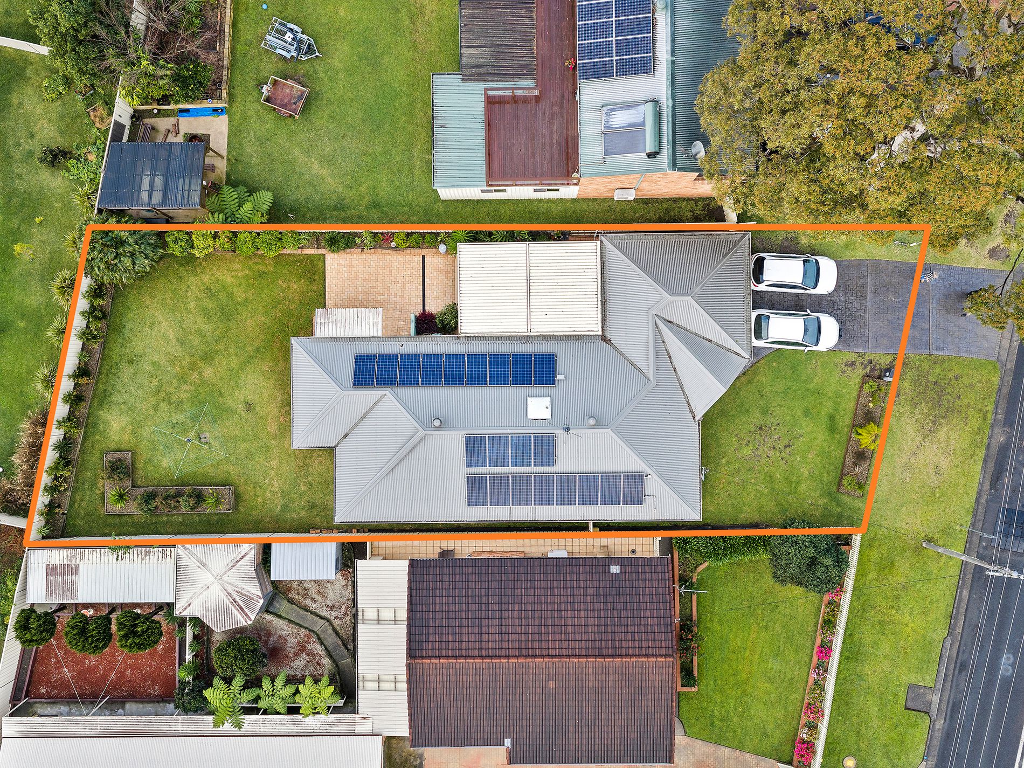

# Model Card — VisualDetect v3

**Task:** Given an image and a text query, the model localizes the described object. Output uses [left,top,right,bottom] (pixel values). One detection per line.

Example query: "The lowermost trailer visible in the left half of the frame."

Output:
[255,75,311,122]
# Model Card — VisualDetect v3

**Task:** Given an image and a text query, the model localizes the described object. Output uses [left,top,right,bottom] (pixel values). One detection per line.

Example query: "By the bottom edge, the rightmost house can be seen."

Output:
[404,554,682,766]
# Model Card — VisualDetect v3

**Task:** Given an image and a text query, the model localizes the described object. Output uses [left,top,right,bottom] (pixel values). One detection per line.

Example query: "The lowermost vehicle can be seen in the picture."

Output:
[753,309,836,352]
